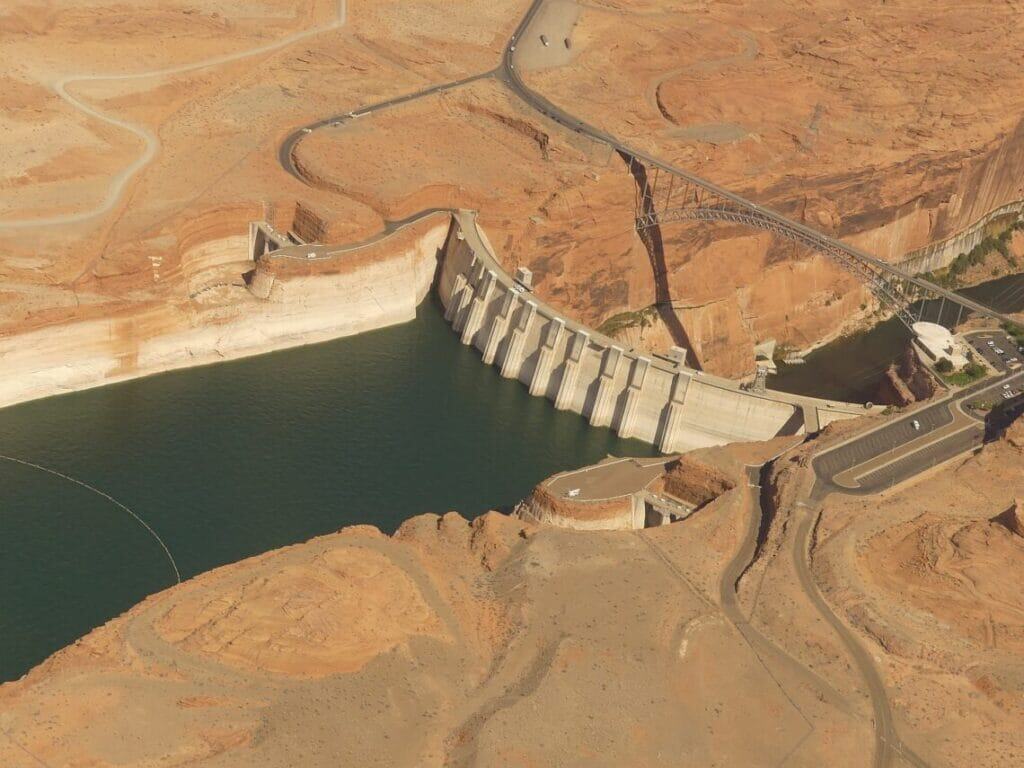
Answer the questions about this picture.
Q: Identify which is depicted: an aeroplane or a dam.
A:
dam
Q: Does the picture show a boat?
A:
No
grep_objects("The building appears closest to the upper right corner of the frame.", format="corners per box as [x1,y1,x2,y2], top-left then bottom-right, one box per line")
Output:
[913,319,969,370]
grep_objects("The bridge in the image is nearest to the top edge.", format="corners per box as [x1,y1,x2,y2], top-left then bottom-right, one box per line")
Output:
[604,140,1024,337]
